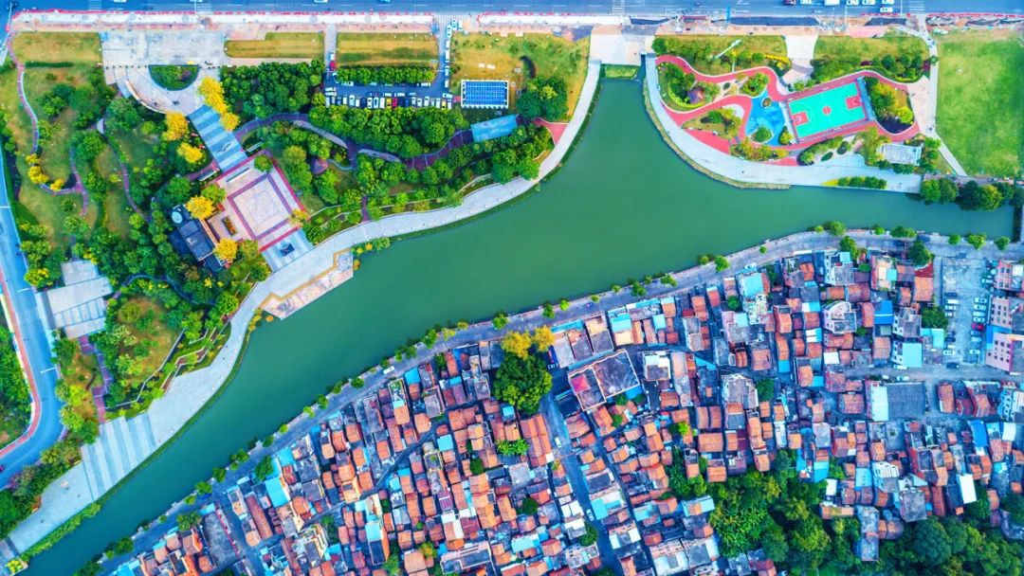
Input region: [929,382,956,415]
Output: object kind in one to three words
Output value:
house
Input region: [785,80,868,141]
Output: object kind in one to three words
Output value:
basketball court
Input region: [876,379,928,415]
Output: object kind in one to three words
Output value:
building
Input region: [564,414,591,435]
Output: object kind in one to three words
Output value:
house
